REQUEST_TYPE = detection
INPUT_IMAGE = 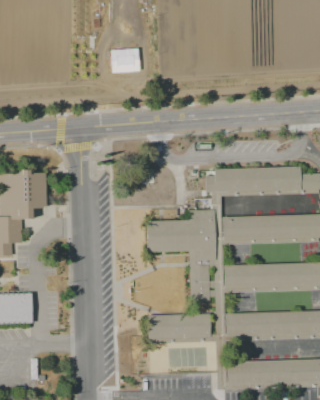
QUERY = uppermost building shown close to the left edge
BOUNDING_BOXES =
[0,170,46,256]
